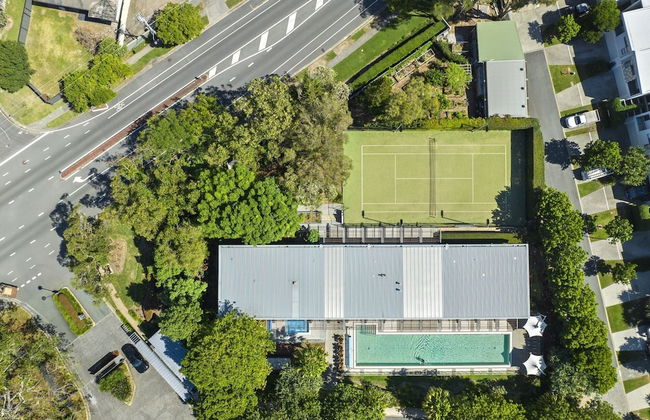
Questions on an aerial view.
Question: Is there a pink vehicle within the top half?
No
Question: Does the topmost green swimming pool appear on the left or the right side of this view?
right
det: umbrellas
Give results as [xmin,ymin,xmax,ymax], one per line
[522,312,547,338]
[523,353,547,379]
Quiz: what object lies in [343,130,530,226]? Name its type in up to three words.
tennis court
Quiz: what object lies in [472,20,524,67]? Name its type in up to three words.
shed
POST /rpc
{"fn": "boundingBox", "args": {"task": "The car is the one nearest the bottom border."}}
[120,343,147,373]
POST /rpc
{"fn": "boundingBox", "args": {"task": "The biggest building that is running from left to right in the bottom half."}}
[218,243,530,320]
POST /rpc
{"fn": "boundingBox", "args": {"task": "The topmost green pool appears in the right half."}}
[352,322,514,369]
